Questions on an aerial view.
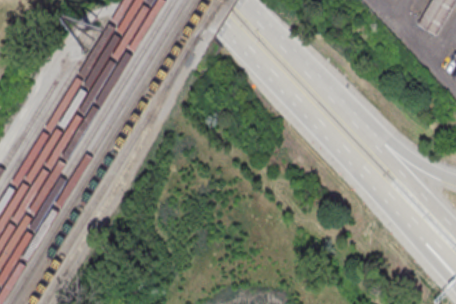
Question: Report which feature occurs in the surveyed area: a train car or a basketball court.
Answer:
train car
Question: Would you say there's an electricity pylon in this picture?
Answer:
Yes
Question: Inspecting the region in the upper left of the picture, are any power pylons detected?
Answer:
Yes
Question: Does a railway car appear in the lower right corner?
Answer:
No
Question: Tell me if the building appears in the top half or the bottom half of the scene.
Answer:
top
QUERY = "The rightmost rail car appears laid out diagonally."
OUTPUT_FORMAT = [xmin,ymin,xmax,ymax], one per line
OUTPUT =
[182,0,214,42]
